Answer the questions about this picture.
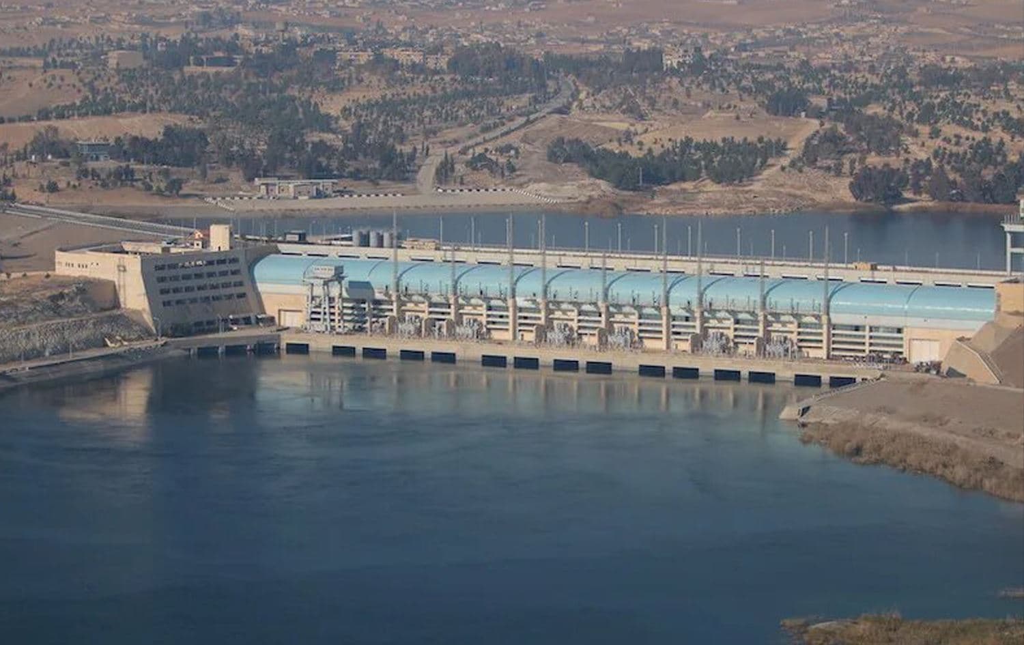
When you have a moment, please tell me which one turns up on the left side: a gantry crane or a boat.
gantry crane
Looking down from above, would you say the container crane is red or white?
white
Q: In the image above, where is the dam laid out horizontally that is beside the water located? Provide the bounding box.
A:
[266,236,1024,289]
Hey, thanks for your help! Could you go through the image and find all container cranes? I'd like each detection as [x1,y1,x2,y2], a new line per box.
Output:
[299,261,352,334]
